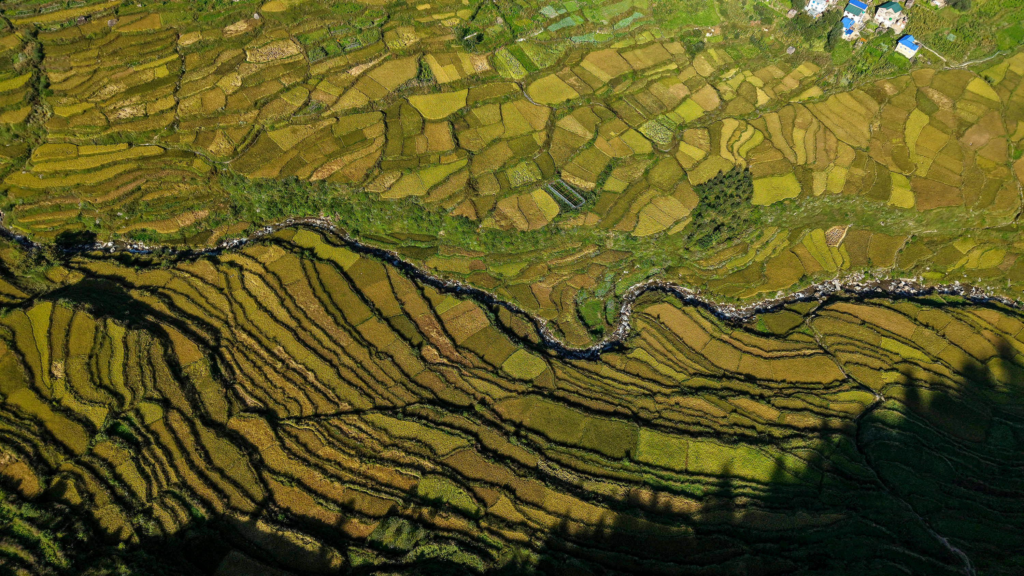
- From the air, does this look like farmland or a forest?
farmland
